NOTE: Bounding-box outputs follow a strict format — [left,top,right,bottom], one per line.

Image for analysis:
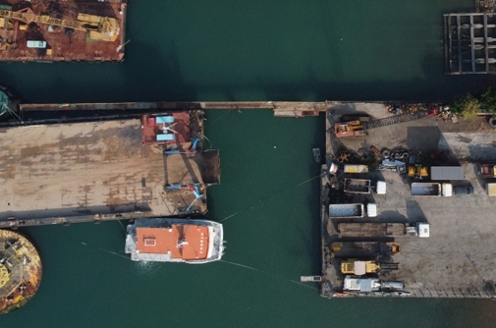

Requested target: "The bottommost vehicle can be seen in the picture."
[344,276,405,294]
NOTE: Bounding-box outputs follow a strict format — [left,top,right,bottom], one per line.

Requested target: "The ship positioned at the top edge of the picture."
[0,0,129,65]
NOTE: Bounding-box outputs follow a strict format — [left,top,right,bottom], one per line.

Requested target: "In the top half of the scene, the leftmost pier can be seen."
[12,101,326,116]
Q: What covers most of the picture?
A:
water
